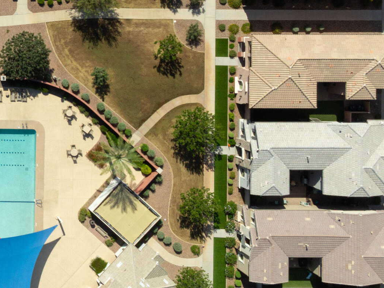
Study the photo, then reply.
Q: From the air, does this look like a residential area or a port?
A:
residential area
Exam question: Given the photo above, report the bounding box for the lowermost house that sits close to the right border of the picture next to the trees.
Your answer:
[232,206,384,288]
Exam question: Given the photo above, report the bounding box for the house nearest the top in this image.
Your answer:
[233,34,384,109]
